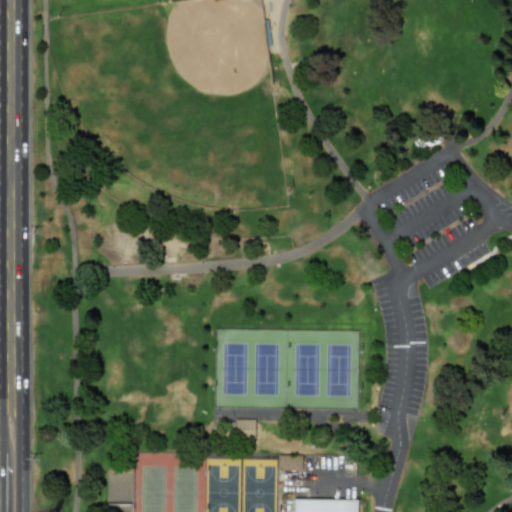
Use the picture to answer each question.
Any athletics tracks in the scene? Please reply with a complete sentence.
No, there appears to be no athletics track in this shot.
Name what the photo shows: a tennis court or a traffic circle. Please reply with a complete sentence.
This aerial view contains a tennis court.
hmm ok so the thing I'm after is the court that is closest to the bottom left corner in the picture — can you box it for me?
[135,453,170,512]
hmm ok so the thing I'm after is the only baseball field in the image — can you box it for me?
[166,0,271,96]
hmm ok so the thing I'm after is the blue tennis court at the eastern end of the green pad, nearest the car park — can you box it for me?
[324,330,360,408]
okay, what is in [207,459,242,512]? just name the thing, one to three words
basketball court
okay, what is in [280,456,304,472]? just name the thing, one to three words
shed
